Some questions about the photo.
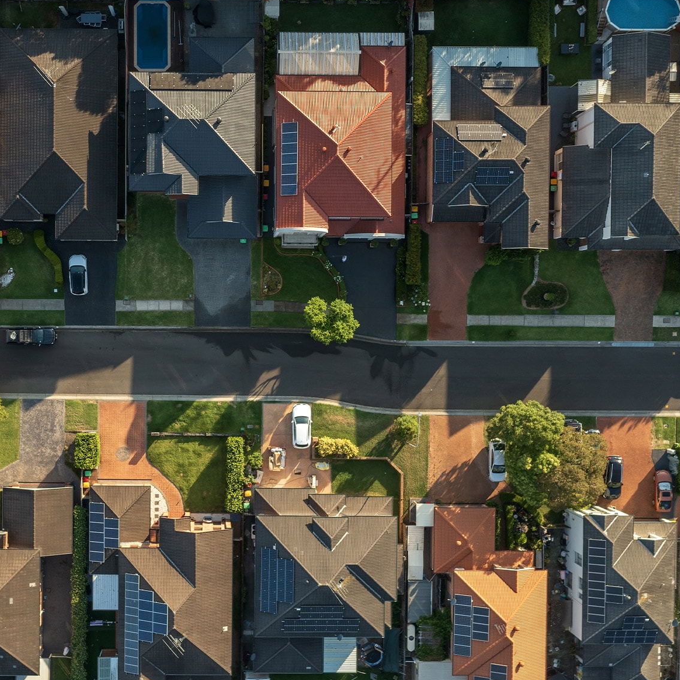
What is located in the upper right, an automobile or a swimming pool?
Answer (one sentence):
There is a swimming pool in the upper right.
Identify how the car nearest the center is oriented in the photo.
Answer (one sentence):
The car nearest the center runs up and down in the image.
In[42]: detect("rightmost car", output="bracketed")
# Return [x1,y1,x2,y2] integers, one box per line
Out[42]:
[652,469,673,514]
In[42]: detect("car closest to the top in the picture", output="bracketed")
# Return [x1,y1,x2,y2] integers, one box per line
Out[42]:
[67,254,88,295]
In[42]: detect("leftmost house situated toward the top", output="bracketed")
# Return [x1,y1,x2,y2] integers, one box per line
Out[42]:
[0,27,118,242]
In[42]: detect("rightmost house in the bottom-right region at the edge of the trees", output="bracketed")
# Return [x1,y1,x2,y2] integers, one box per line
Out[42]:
[566,503,680,680]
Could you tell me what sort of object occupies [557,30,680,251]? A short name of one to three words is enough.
house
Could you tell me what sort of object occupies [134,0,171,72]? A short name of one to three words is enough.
swimming pool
